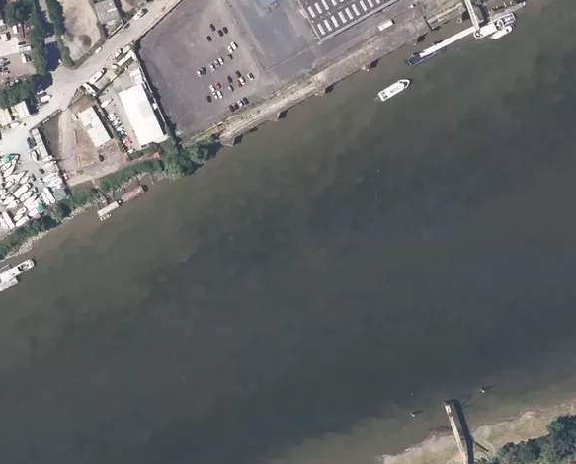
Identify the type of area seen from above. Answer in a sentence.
This image shows a port.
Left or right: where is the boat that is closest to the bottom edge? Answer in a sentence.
The boat that is closest to the bottom edge appears in the left half of the scene.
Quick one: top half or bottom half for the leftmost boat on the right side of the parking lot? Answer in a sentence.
Seen from above, the leftmost boat on the right side of the parking lot lies in the top half of the view.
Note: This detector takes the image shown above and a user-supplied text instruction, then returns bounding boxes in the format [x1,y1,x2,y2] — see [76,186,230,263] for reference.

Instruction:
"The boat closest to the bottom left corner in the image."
[0,260,34,282]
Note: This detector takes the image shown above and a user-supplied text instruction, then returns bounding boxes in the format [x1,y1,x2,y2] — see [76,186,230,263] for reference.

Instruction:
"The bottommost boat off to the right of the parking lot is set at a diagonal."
[378,80,409,102]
